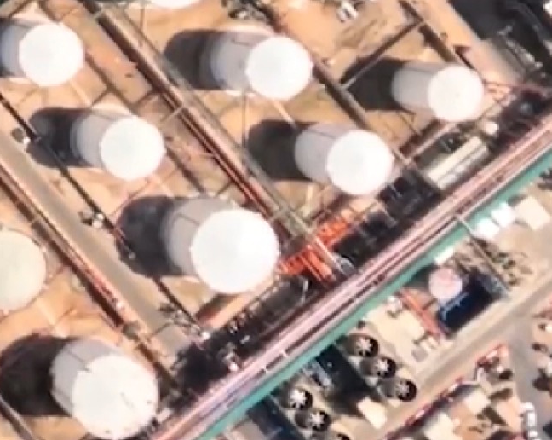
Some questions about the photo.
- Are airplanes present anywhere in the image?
No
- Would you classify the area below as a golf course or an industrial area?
industrial area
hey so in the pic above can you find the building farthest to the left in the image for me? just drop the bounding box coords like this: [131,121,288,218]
[351,394,387,428]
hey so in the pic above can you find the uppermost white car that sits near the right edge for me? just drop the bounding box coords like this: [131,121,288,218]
[521,401,536,424]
